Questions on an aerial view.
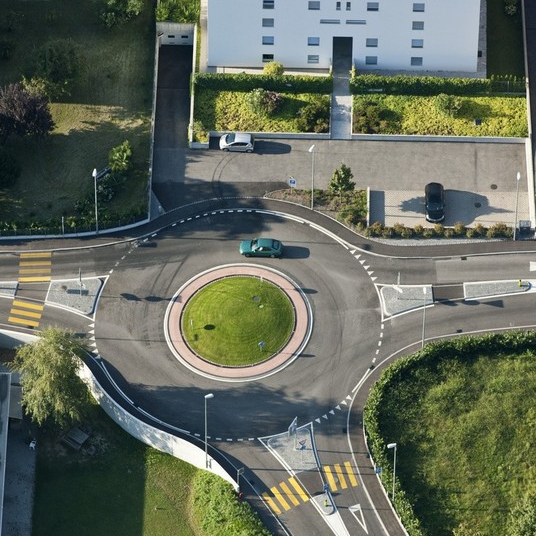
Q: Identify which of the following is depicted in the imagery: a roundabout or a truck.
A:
roundabout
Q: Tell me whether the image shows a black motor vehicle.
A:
Yes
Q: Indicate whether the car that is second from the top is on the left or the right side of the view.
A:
right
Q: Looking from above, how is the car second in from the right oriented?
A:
from side to side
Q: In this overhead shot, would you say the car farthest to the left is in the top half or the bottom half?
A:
top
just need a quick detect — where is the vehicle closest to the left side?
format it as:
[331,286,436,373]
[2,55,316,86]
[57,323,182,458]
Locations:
[220,132,254,153]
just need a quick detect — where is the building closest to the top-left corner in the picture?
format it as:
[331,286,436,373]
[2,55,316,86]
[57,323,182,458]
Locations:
[158,21,193,44]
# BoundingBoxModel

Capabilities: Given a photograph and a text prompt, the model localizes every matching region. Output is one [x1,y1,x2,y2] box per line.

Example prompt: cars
[424,182,446,222]
[220,132,254,153]
[240,237,283,257]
